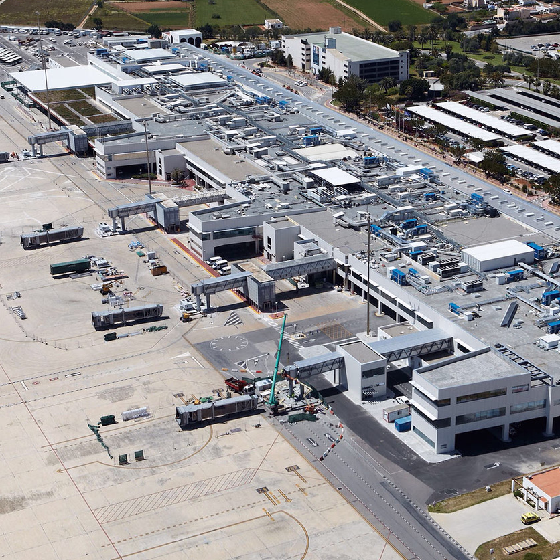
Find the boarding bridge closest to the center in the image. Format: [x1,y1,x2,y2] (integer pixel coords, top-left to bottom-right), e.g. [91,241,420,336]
[183,254,338,321]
